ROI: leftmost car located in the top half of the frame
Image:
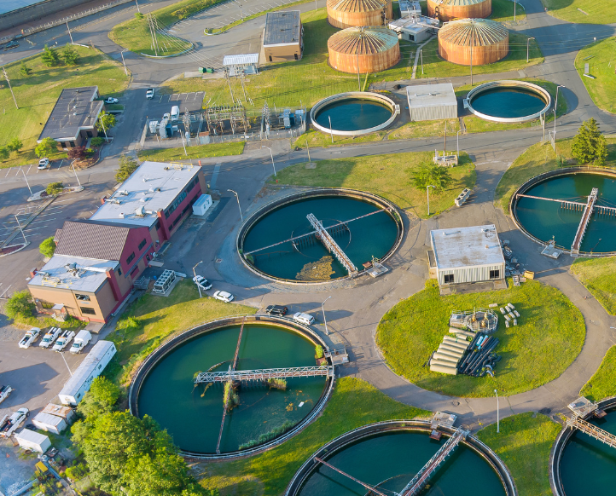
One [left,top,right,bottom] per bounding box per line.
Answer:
[35,153,52,168]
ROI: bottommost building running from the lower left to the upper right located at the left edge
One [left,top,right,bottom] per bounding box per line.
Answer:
[23,159,208,327]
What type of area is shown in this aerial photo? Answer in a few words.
industrial area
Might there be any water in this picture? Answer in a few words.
Yes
